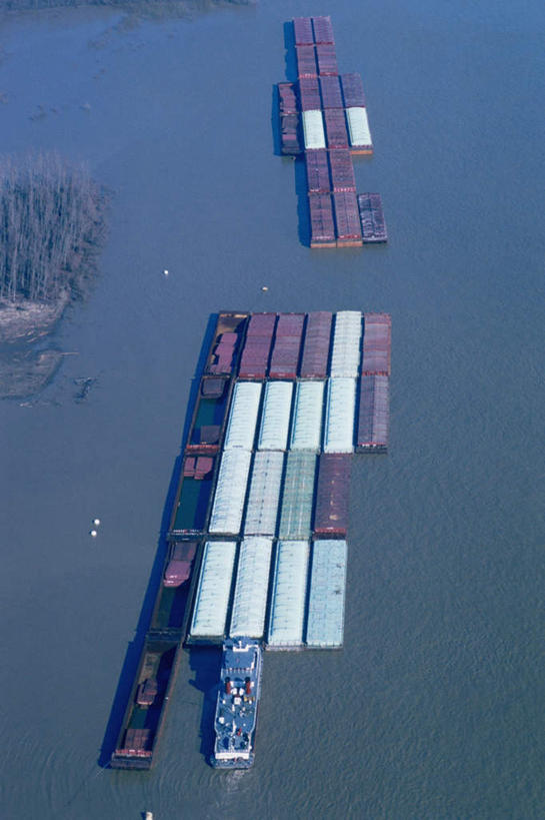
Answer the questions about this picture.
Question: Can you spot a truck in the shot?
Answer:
No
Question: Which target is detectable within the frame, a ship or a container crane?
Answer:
ship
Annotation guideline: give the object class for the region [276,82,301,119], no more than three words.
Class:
ship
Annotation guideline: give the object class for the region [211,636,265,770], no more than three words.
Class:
boat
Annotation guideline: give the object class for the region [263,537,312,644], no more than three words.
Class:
ship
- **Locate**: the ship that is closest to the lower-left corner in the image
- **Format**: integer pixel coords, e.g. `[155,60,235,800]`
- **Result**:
[113,637,182,767]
